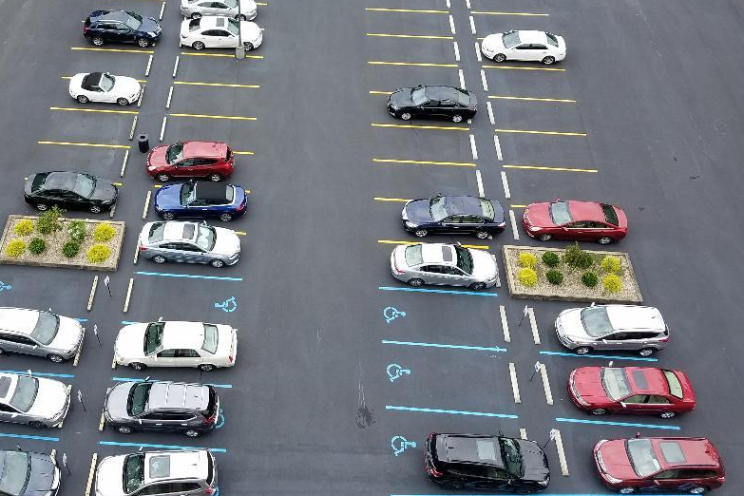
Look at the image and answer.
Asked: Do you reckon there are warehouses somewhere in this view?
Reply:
No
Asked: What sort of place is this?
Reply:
parking lot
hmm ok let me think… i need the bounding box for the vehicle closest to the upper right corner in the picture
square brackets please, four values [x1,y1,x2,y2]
[481,29,569,65]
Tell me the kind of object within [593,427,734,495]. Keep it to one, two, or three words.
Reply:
car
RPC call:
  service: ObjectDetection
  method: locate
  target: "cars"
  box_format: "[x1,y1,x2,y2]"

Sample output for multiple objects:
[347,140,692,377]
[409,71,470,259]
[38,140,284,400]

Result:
[0,305,83,363]
[388,83,478,123]
[422,427,555,494]
[68,71,140,106]
[183,17,265,51]
[150,176,250,221]
[0,369,68,429]
[393,241,500,291]
[114,316,238,372]
[555,301,675,357]
[20,170,118,213]
[93,444,219,496]
[139,220,241,269]
[102,375,220,438]
[481,29,569,65]
[400,192,507,239]
[181,0,258,21]
[82,10,160,47]
[522,196,631,244]
[569,360,699,420]
[146,138,235,181]
[593,427,734,495]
